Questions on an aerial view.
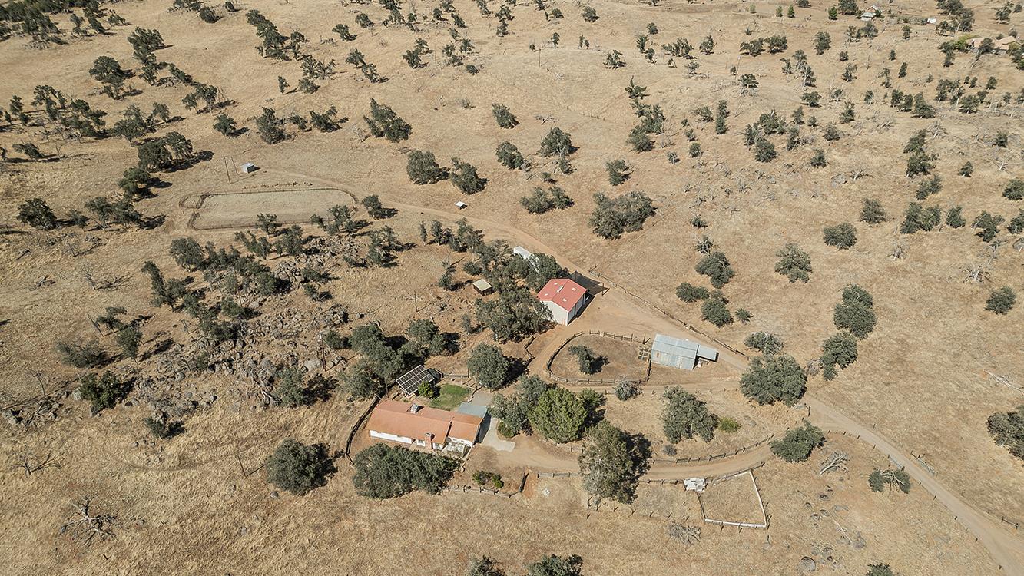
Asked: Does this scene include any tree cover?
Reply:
Yes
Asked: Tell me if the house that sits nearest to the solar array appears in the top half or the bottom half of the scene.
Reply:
bottom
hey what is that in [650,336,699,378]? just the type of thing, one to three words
shed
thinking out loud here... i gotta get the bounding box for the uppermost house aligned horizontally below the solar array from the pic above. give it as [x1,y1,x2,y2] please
[367,400,488,450]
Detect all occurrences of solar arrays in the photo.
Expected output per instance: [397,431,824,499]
[396,365,433,396]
